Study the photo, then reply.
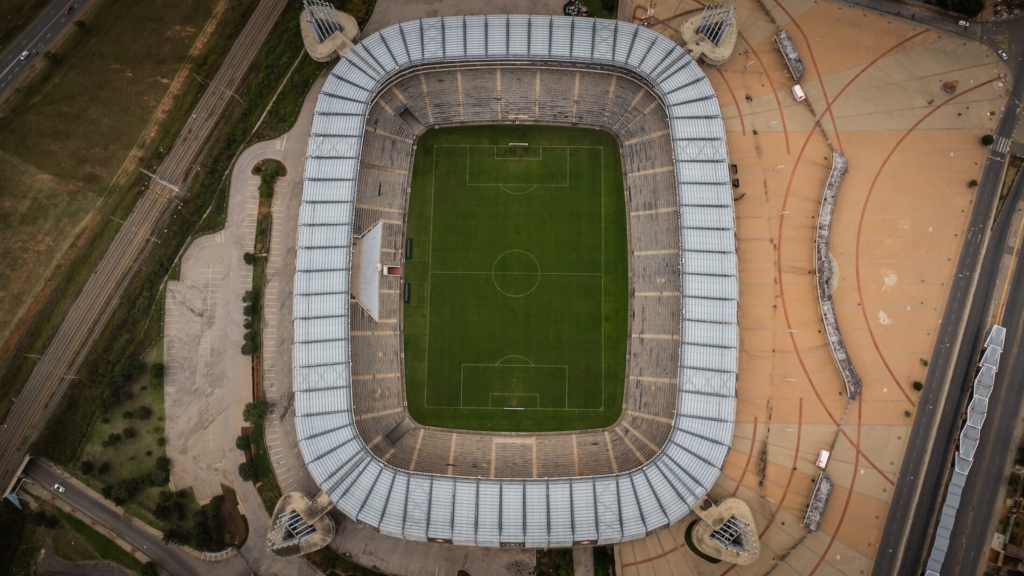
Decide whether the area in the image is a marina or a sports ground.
sports ground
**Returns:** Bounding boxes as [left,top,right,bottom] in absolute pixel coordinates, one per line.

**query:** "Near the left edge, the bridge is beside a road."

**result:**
[0,436,44,509]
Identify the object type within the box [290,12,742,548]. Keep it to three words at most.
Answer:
stadium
